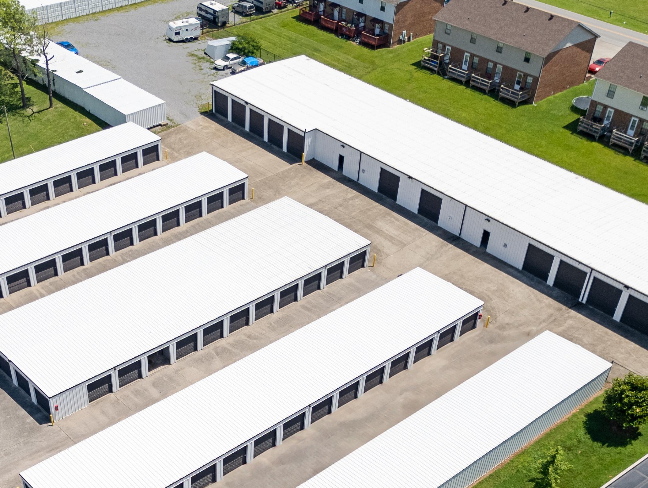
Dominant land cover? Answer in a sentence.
The bulk of the photo consists of buildings.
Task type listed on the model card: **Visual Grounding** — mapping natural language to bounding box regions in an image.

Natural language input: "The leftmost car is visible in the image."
[57,35,85,53]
